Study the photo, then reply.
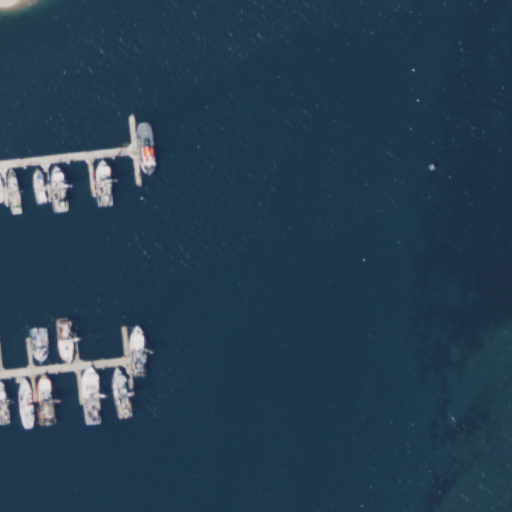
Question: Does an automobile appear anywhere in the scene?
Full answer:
No, I can't see a single automobile in this photo.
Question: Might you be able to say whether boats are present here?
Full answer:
Yes, the photo shows a boat.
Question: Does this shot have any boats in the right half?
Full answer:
No, looking in the right half, there is no boat.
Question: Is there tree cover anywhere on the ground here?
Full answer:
No, the picture contains no tree cover.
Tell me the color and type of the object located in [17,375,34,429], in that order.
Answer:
white boat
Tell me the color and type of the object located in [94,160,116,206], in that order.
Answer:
white boat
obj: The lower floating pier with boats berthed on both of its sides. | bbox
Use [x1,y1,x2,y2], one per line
[0,326,134,406]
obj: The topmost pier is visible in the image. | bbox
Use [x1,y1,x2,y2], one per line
[0,114,142,207]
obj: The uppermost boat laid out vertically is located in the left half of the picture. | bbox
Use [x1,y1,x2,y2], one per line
[134,122,156,182]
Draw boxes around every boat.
[56,318,77,364]
[112,366,134,419]
[82,366,104,426]
[28,328,49,366]
[48,163,70,212]
[0,376,12,426]
[6,168,24,215]
[17,375,34,429]
[33,167,47,206]
[35,373,58,426]
[134,122,156,182]
[94,160,116,206]
[126,326,151,377]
